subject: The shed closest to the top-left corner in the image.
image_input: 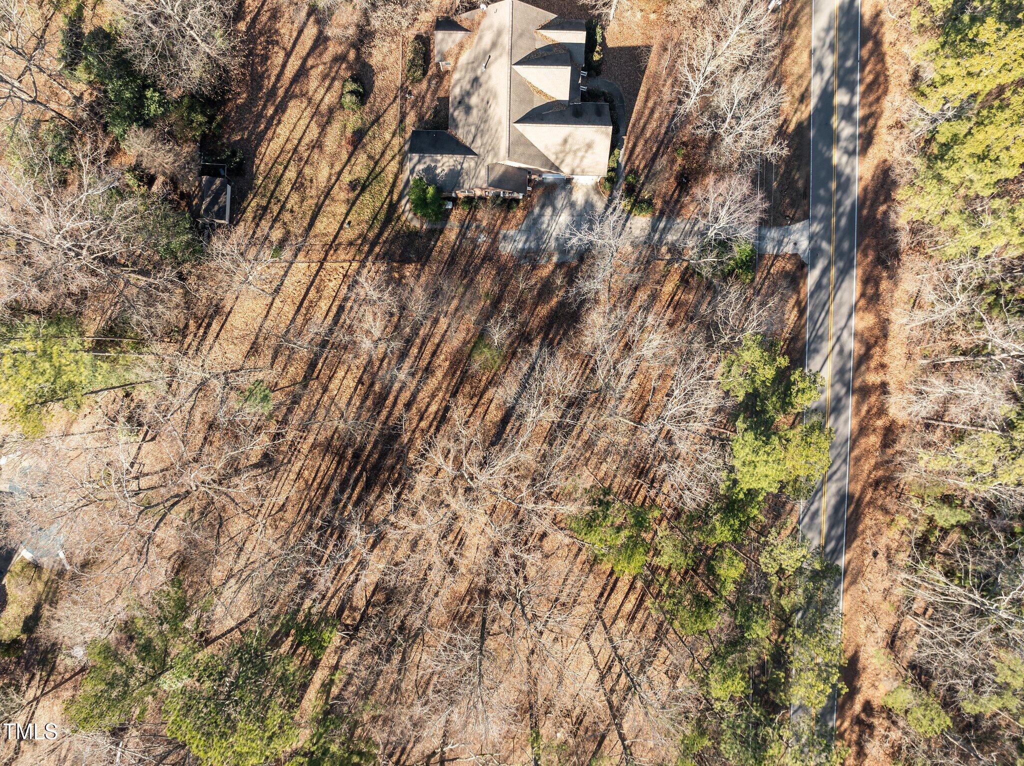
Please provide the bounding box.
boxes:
[200,155,243,255]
